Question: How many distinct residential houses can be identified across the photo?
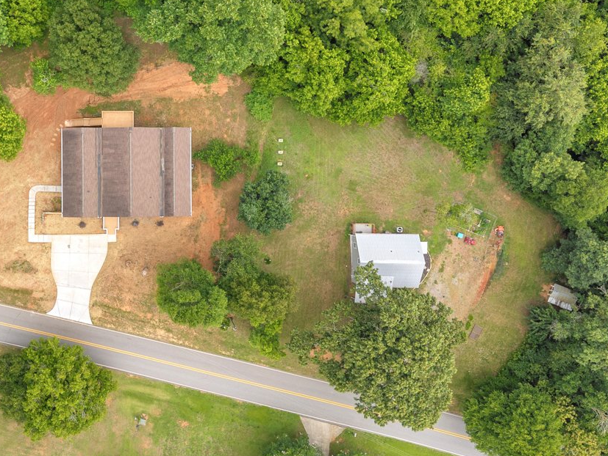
2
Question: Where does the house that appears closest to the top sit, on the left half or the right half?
left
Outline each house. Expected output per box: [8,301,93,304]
[61,127,193,234]
[351,223,428,303]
